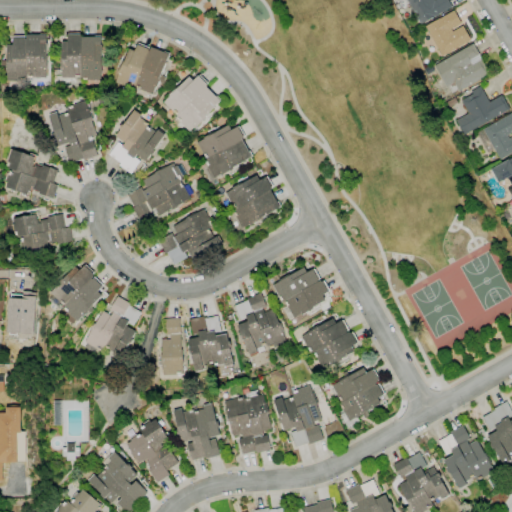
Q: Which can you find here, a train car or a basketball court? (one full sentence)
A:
I can see a basketball court in this picture.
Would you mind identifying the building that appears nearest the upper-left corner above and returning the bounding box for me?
[6,33,46,80]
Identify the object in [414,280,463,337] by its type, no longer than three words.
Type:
basketball court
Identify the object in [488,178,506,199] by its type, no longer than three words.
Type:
swimming pool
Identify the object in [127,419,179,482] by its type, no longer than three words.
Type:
house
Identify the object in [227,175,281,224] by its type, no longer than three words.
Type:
house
